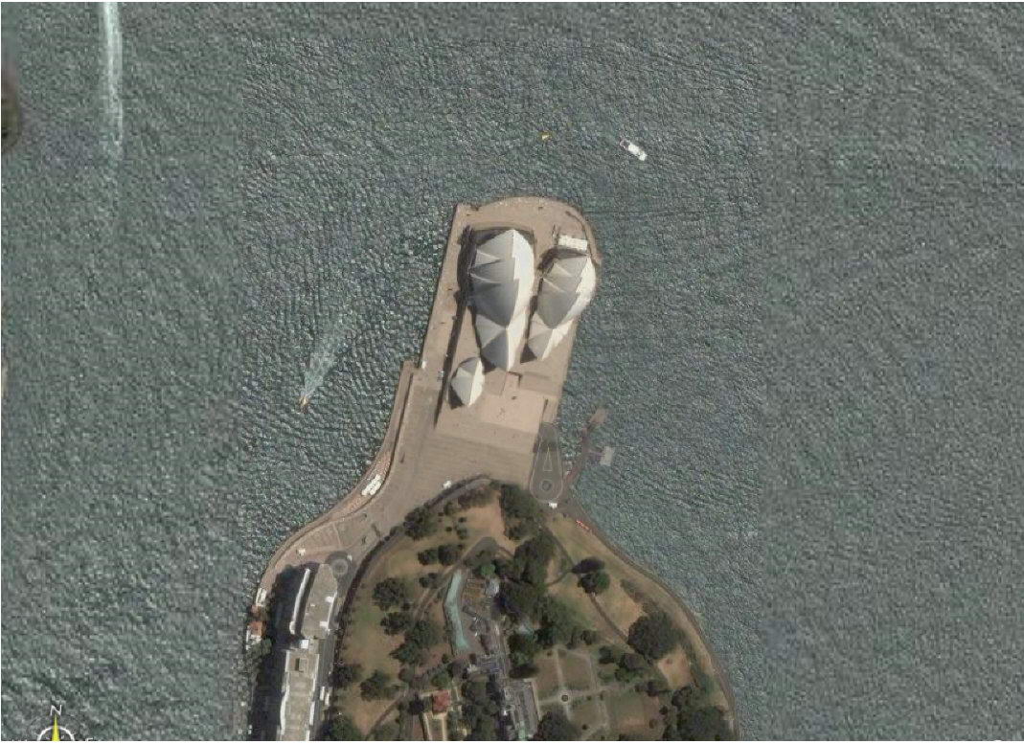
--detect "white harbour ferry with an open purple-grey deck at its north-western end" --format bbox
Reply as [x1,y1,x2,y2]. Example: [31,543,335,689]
[619,136,647,160]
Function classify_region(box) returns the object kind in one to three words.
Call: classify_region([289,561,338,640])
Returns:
building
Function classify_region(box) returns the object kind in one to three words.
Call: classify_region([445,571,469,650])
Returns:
building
